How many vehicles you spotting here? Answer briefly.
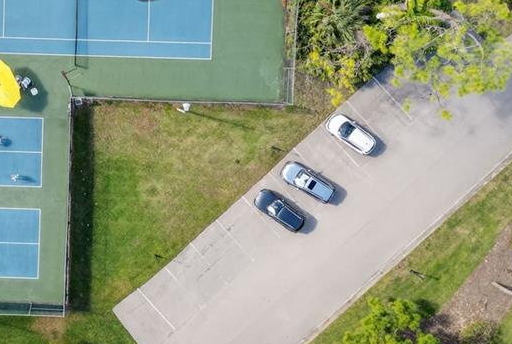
three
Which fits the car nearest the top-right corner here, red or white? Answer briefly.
white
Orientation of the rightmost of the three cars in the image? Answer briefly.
diagonally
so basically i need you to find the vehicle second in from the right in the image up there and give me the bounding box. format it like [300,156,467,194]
[282,161,338,204]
